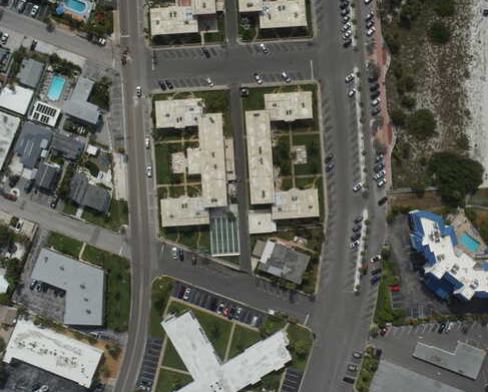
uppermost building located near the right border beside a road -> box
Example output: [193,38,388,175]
[407,208,488,302]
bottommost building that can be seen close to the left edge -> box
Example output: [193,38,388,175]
[4,315,107,389]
